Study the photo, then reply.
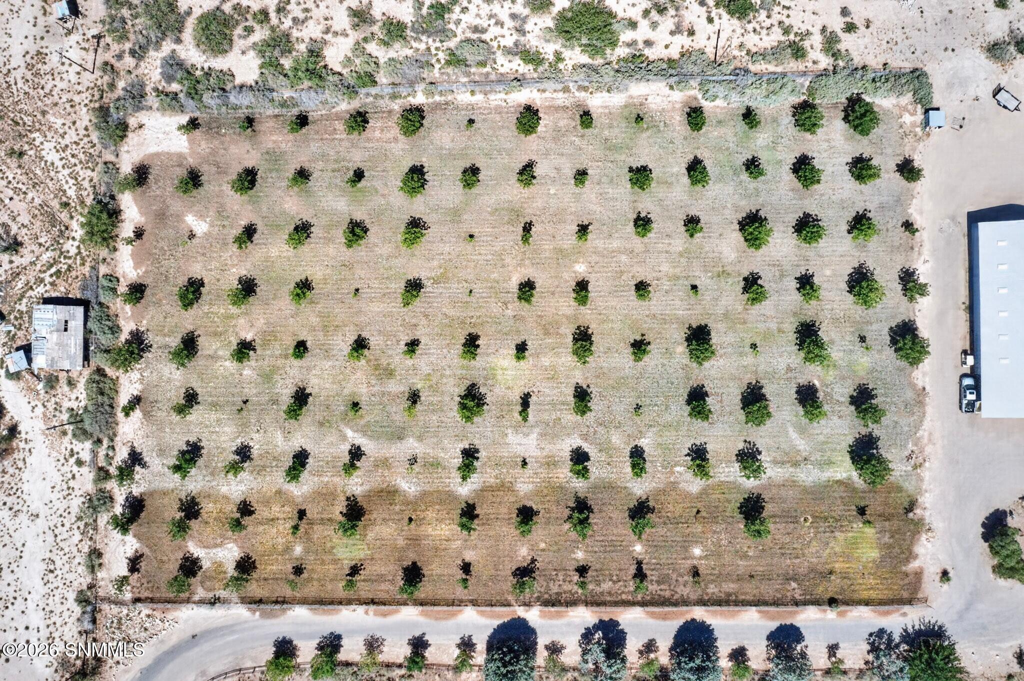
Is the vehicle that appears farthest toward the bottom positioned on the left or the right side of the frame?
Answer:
right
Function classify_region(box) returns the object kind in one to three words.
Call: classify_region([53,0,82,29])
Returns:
shed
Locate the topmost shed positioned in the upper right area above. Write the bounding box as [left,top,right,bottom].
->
[921,110,945,130]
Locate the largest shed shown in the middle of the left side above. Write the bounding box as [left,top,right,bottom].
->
[31,306,91,370]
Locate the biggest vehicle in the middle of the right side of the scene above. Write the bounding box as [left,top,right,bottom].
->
[958,374,978,414]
